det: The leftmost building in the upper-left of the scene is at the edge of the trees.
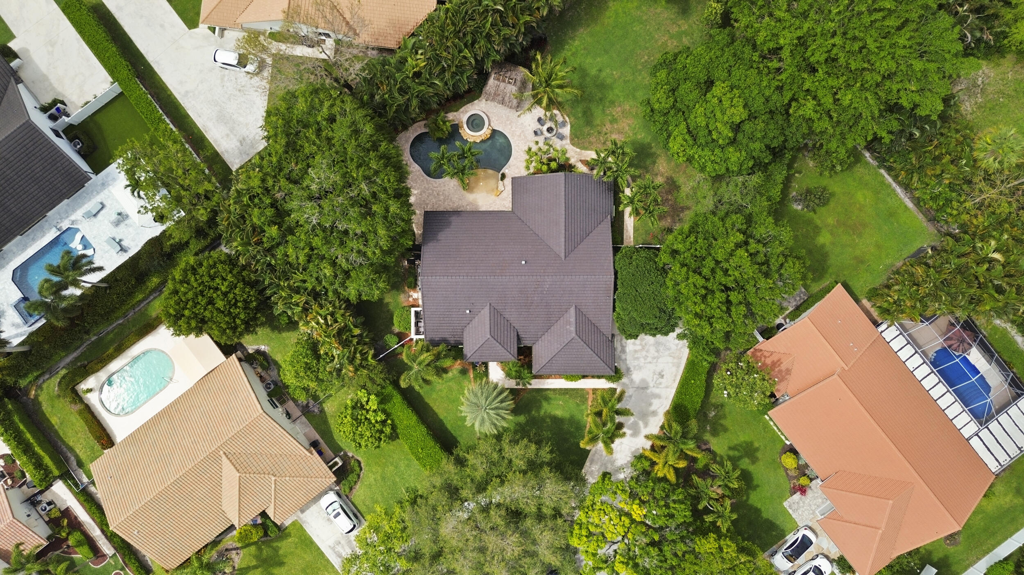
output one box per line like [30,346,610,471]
[0,42,105,253]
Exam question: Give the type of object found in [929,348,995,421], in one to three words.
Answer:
swimming pool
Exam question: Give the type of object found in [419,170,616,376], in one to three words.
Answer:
house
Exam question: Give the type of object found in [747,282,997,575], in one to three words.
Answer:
house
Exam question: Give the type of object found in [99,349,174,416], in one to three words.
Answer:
swimming pool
